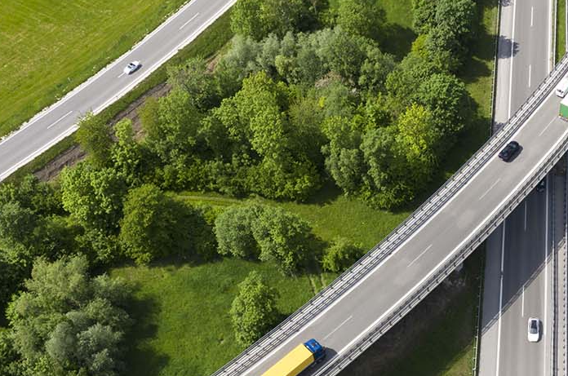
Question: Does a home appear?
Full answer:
No, the frame has no home in it.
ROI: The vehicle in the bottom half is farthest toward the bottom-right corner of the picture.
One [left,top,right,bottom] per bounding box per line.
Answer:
[527,316,541,343]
